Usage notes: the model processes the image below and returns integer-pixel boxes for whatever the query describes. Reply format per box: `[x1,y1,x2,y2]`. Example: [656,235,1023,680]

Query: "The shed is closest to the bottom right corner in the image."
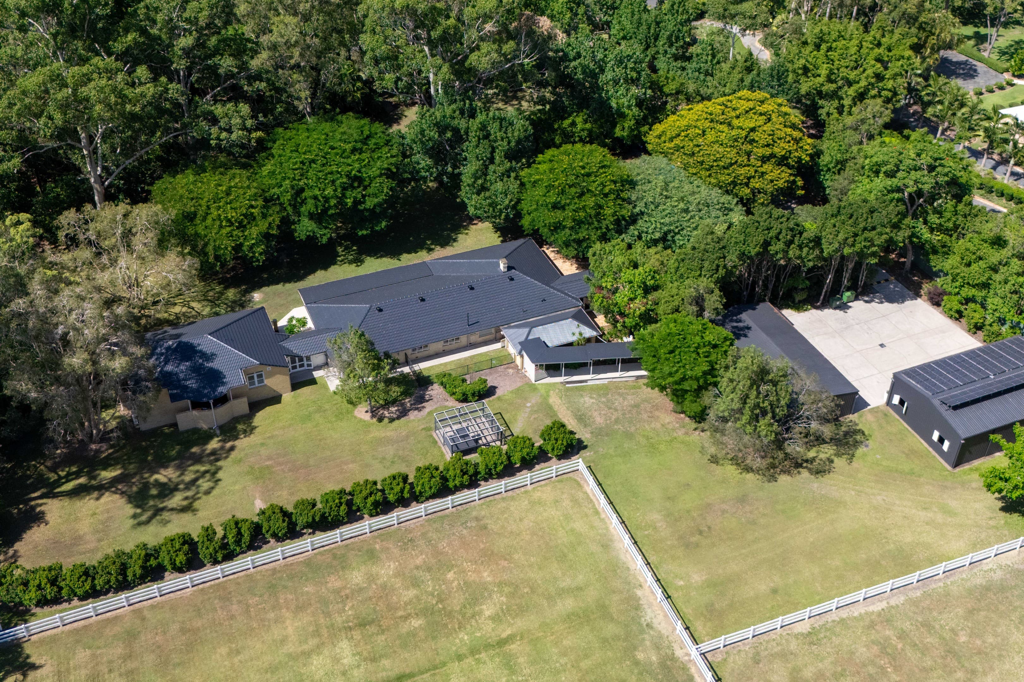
[886,334,1024,468]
